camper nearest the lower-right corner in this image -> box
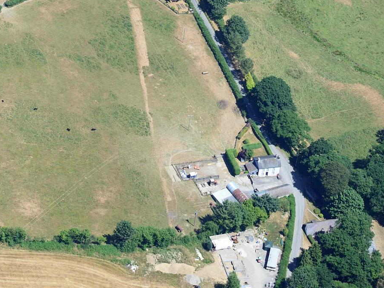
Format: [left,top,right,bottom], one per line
[266,248,280,272]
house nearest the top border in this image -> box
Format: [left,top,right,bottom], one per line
[244,151,283,178]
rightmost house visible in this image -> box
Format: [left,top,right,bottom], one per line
[302,217,329,239]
